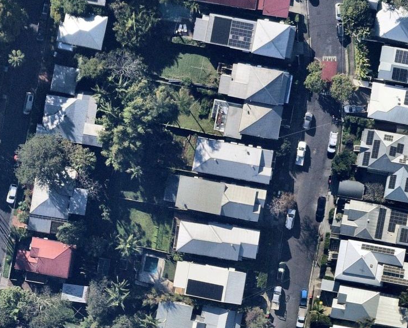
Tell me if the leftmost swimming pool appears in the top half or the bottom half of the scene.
bottom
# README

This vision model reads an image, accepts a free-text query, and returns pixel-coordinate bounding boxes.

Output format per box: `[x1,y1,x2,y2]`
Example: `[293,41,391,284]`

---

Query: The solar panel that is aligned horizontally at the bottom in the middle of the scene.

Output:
[186,279,223,300]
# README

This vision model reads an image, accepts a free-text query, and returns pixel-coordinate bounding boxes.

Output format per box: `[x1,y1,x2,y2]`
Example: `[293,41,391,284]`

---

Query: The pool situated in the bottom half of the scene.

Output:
[141,254,165,278]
